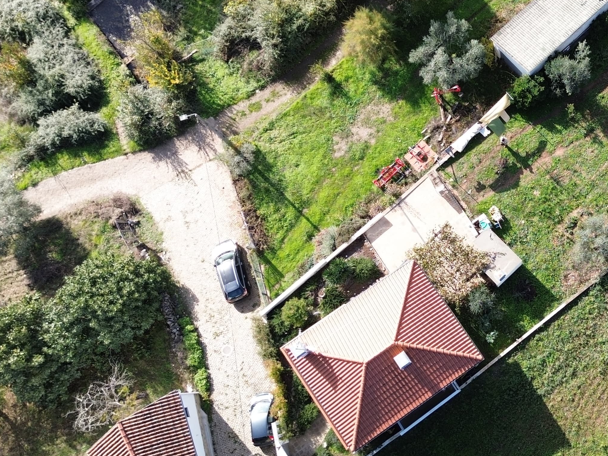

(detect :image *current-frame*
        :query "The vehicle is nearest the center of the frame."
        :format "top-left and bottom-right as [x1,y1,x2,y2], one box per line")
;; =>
[211,238,251,306]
